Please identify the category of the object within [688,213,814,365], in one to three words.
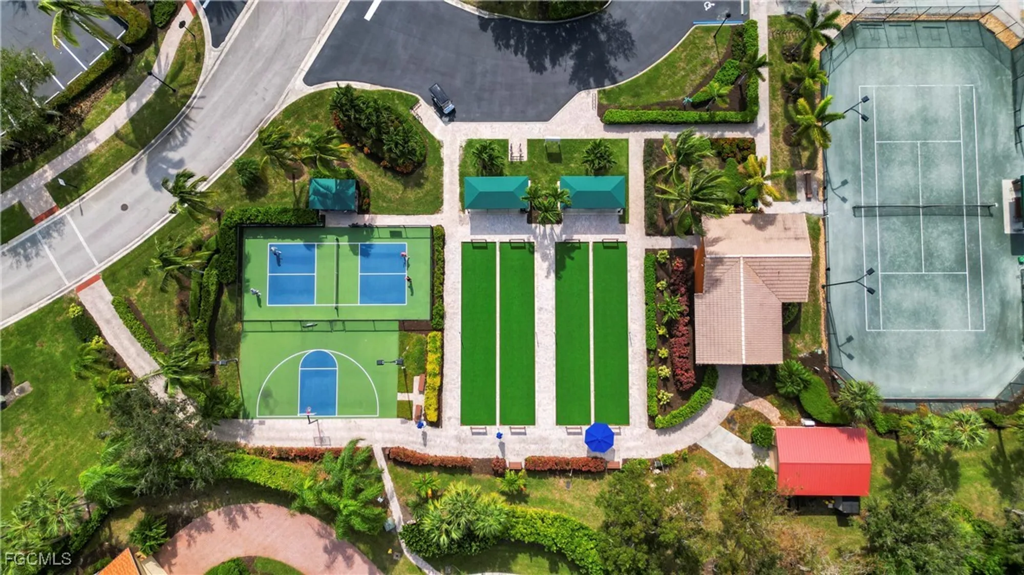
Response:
building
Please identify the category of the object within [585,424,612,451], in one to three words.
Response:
umbrella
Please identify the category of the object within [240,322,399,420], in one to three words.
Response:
basketball court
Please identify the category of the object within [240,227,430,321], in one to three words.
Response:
sports court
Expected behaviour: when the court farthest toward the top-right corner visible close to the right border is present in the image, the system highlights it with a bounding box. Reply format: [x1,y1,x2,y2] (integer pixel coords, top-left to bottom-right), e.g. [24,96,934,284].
[820,21,1024,412]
